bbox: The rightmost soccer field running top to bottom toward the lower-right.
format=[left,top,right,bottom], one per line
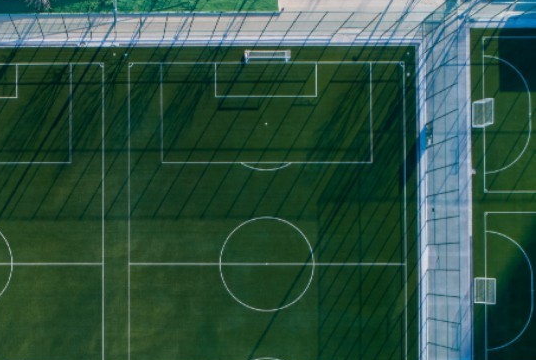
[472,202,536,360]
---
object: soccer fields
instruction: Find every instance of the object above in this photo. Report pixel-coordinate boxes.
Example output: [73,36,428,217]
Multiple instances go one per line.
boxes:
[472,202,536,360]
[471,26,536,202]
[0,48,116,360]
[116,46,418,360]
